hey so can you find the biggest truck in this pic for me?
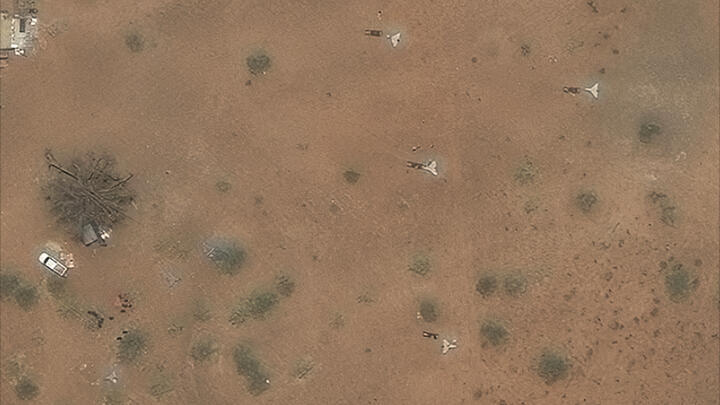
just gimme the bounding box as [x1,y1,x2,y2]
[38,252,68,277]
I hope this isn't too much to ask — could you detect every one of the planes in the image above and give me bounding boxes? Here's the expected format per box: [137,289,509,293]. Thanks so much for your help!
[391,32,401,47]
[585,84,599,98]
[442,340,456,353]
[105,371,117,380]
[423,161,437,175]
